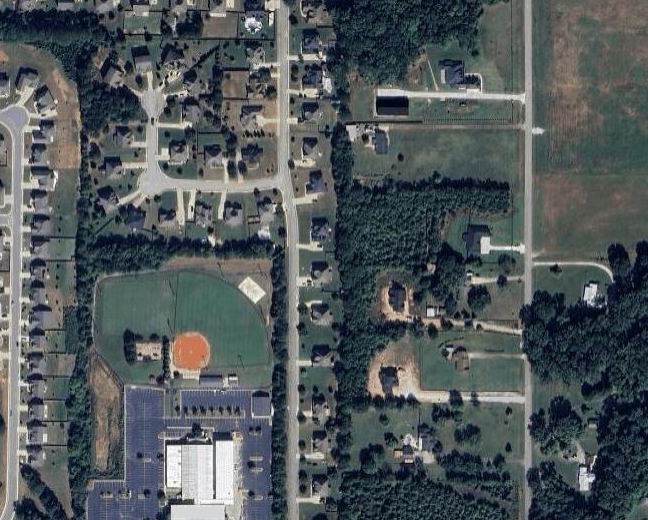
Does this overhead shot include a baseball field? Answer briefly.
Yes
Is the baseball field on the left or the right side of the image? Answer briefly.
left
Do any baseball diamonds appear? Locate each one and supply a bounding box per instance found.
[170,270,269,387]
